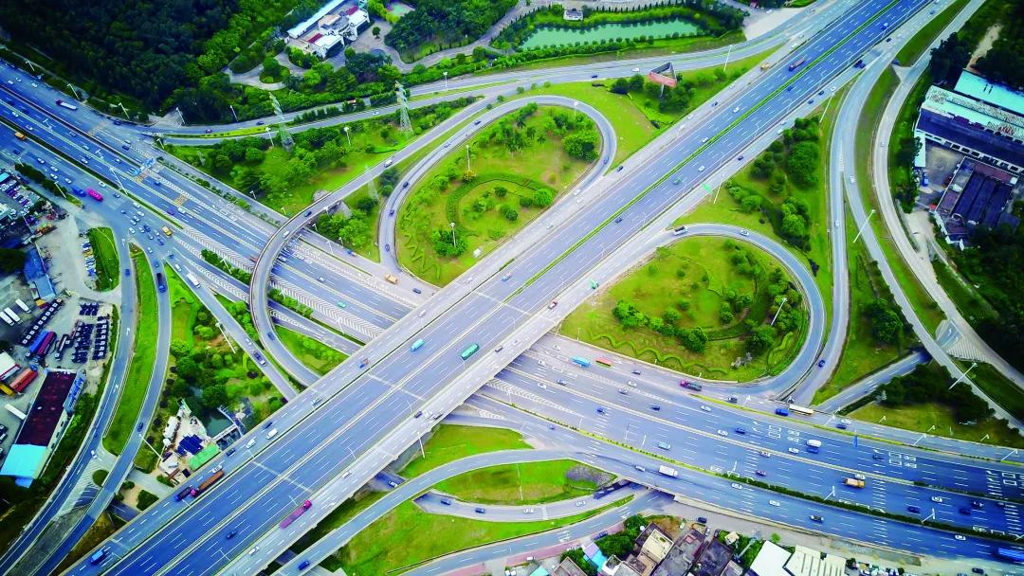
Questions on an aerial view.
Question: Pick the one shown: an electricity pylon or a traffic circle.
electricity pylon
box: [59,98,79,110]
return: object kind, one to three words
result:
vehicle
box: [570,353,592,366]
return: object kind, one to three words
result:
vehicle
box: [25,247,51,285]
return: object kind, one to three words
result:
shed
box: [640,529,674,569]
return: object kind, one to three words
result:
house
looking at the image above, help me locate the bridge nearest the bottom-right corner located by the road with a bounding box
[843,150,1024,447]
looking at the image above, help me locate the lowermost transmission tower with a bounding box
[359,165,382,201]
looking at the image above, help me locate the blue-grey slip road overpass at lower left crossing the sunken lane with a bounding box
[24,241,171,576]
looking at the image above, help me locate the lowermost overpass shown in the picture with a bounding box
[271,448,597,576]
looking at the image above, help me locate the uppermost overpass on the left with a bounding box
[250,92,505,386]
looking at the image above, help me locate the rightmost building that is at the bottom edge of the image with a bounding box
[782,546,846,576]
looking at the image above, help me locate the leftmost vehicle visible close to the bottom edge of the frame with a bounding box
[86,546,106,564]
